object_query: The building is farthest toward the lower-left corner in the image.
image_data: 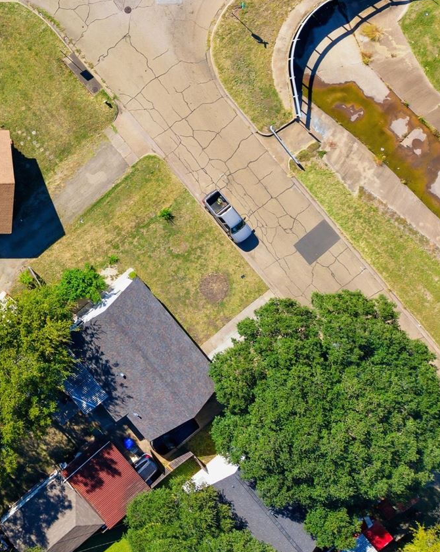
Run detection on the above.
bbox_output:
[0,471,104,552]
